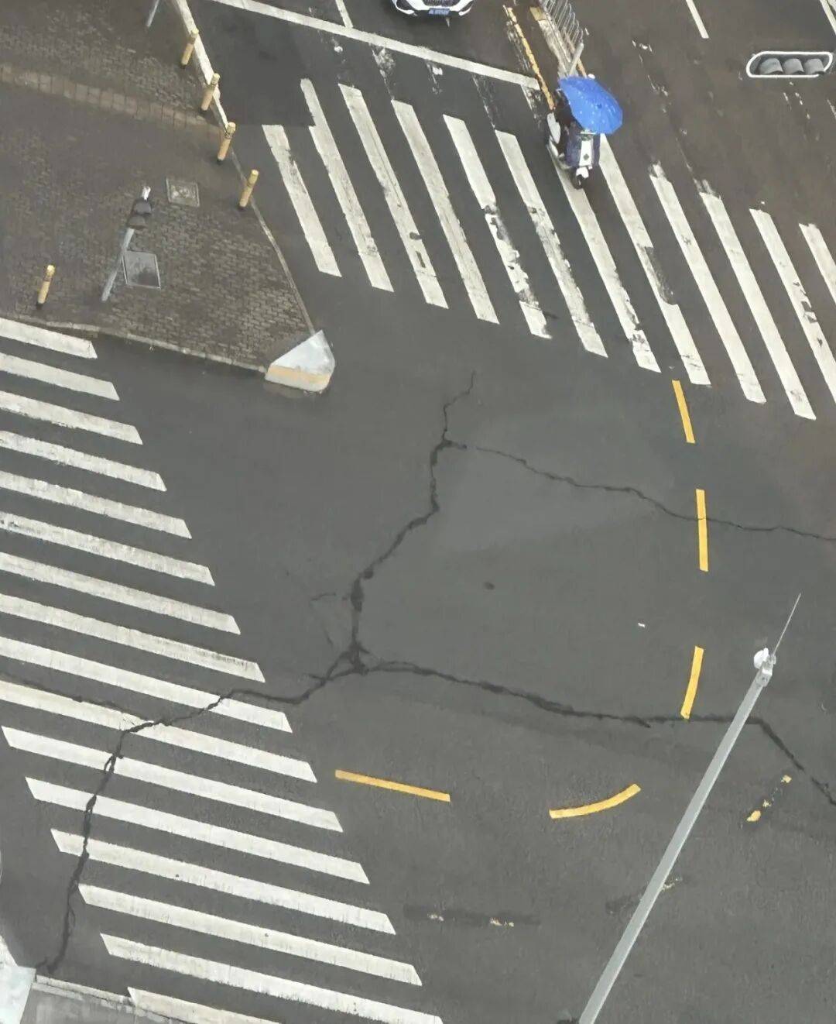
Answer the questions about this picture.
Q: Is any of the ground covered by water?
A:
No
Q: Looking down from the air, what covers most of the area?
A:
paved ground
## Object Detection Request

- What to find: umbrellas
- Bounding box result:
[560,76,623,134]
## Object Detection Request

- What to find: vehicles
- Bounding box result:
[554,93,599,189]
[376,0,473,19]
